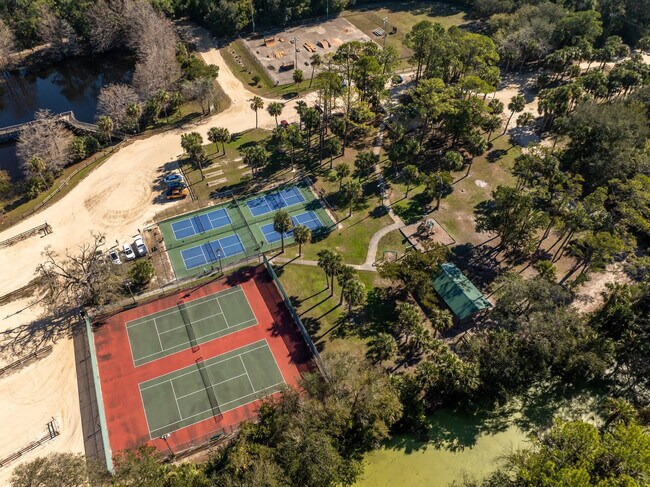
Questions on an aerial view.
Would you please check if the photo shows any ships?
No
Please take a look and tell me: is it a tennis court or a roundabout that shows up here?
tennis court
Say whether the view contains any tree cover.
Yes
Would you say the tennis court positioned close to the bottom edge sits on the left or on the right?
left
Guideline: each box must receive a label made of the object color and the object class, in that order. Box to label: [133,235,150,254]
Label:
white vehicle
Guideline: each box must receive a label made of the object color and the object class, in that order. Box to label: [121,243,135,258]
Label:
white vehicle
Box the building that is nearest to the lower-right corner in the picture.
[426,262,493,327]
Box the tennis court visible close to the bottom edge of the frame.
[101,320,322,472]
